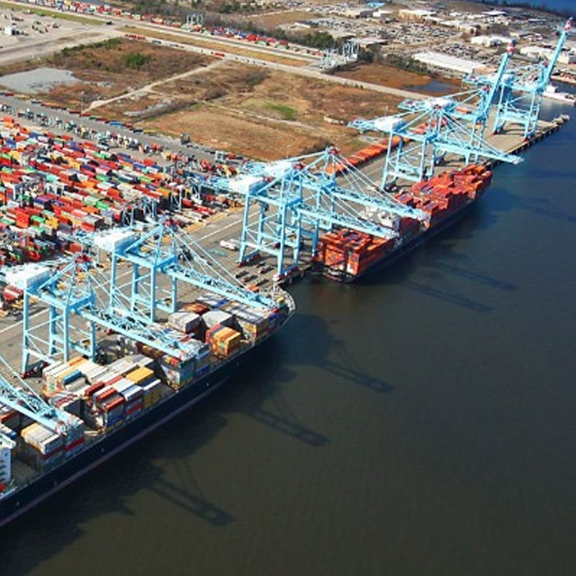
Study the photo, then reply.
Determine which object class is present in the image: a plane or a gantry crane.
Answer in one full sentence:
The one in the frame is a gantry crane.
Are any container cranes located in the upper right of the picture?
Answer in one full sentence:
Yes, in the upper right of the picture there is a container crane.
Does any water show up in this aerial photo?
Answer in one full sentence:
Yes, there is water in the image.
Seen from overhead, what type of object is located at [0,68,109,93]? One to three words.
pond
